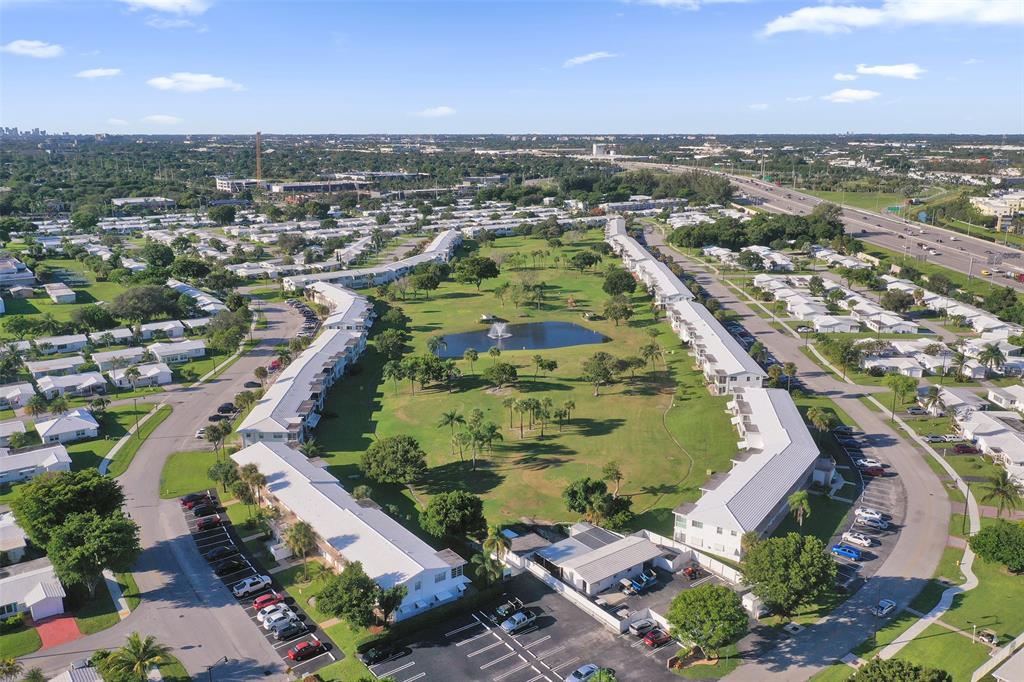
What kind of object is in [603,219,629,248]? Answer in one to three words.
building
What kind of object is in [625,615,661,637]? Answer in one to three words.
car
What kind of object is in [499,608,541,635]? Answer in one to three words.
car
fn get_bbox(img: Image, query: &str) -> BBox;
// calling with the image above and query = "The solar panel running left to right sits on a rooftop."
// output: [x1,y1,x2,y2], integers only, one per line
[574,527,620,548]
